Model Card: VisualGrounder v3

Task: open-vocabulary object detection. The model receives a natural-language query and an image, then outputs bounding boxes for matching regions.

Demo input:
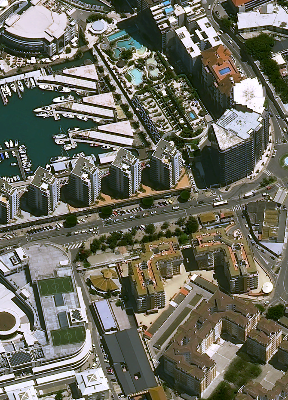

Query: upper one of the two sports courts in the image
[38,276,75,298]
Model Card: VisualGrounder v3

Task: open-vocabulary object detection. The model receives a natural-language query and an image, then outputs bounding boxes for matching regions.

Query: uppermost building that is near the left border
[3,0,68,56]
